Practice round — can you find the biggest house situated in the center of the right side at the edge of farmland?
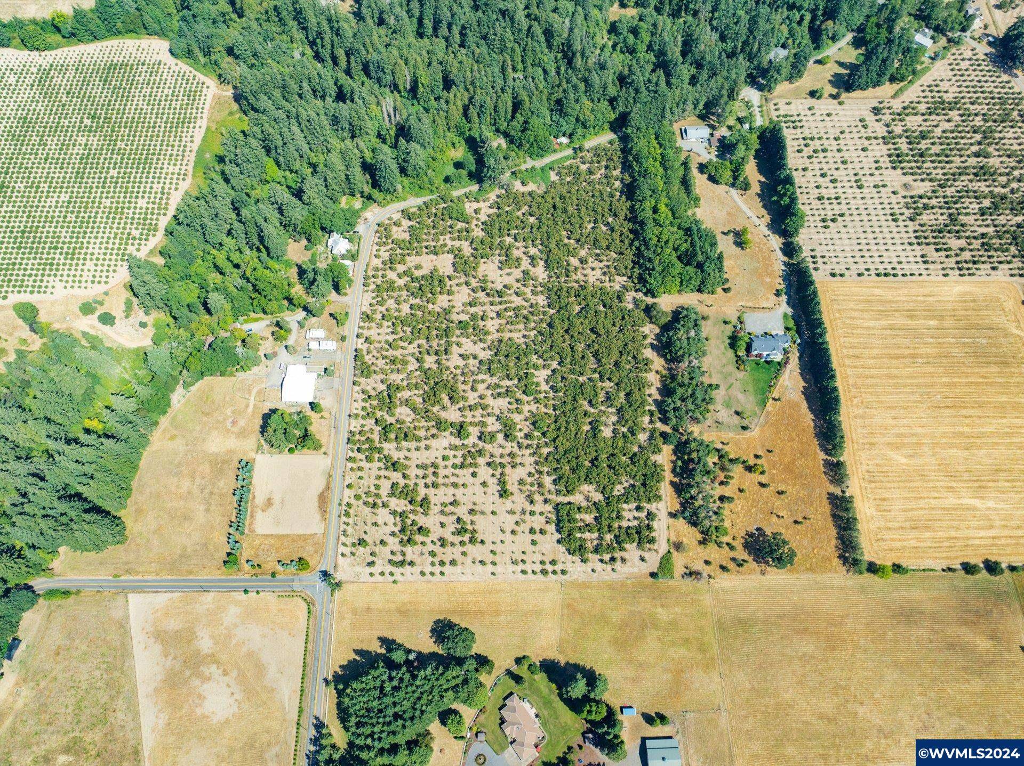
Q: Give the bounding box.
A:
[748,333,793,363]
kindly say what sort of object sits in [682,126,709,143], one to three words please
house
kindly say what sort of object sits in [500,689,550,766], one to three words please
house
